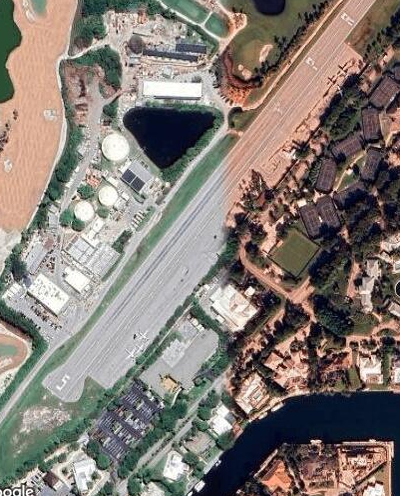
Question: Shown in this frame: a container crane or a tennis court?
tennis court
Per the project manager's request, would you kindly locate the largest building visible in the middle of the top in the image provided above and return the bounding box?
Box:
[141,80,201,98]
